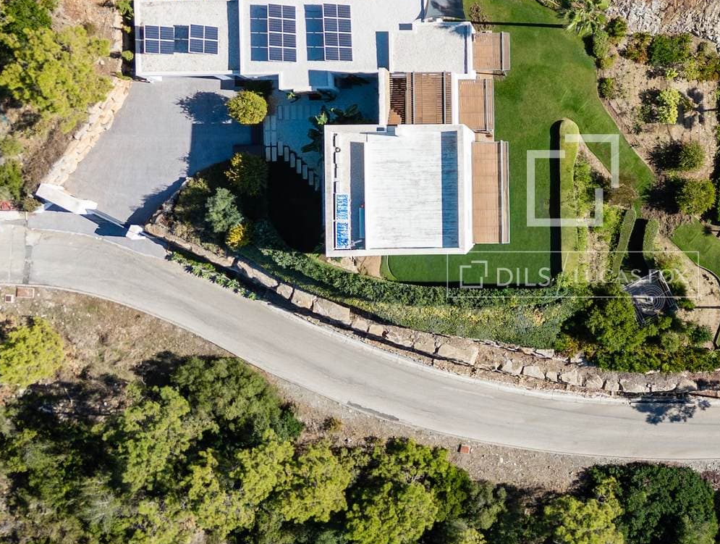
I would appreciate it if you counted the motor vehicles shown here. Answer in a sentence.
The photo contains no motor vehicles.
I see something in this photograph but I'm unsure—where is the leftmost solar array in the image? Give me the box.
[145,26,175,57]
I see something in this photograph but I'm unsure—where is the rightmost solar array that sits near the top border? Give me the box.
[324,3,352,63]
